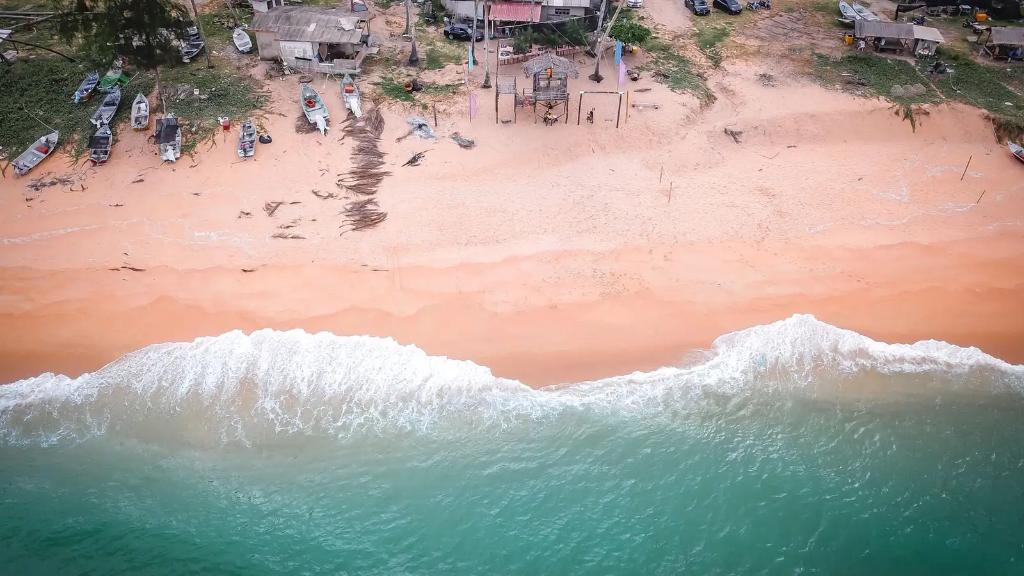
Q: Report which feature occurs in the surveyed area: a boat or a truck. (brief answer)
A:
boat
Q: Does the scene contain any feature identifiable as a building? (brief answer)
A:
Yes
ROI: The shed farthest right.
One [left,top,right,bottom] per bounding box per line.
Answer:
[974,24,1024,61]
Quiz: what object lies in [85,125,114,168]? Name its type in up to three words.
boat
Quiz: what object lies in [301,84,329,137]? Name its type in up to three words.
boat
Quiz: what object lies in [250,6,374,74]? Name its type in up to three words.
house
